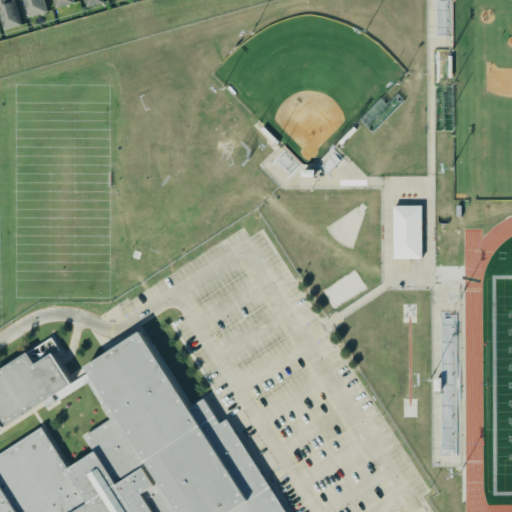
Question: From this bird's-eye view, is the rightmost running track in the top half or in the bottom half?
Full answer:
Seen from above, the rightmost running track lies in the bottom half of the view.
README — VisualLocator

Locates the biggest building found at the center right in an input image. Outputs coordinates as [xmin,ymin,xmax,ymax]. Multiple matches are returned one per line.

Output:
[394,206,423,260]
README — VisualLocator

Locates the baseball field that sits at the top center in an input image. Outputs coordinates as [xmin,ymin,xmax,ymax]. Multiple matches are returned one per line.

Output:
[214,15,406,164]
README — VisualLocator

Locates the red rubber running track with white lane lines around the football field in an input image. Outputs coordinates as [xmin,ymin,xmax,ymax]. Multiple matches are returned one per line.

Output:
[466,216,512,512]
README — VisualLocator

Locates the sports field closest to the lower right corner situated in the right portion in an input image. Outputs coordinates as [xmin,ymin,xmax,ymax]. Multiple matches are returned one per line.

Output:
[484,236,512,504]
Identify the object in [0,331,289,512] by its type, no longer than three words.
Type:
building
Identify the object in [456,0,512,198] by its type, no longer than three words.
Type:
baseball field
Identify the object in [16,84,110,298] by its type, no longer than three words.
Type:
sports field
